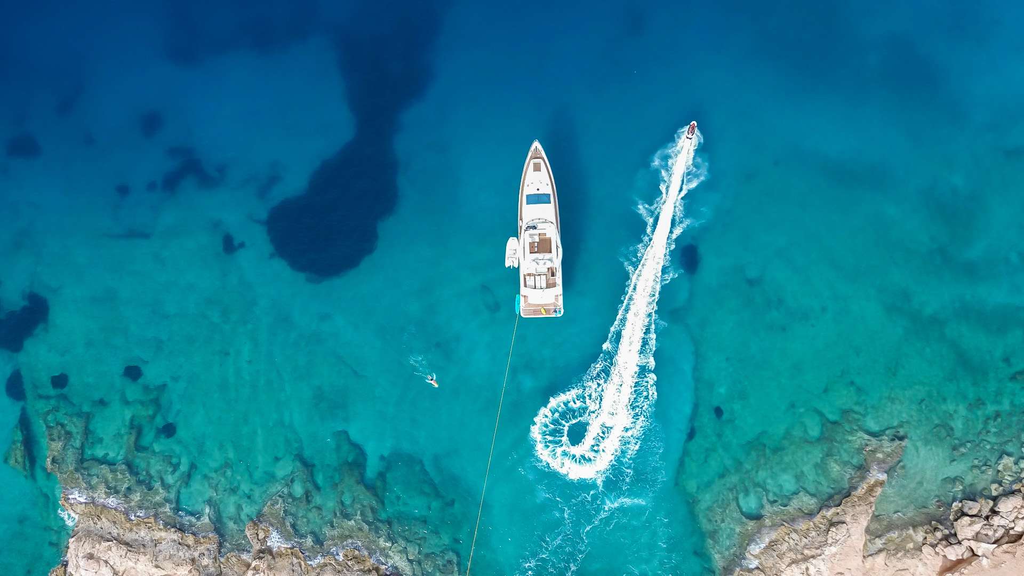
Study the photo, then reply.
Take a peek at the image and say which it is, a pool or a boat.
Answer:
boat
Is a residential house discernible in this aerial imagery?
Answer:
No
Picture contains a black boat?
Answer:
No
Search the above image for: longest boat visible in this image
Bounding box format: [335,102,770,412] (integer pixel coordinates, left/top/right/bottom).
[518,140,563,318]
